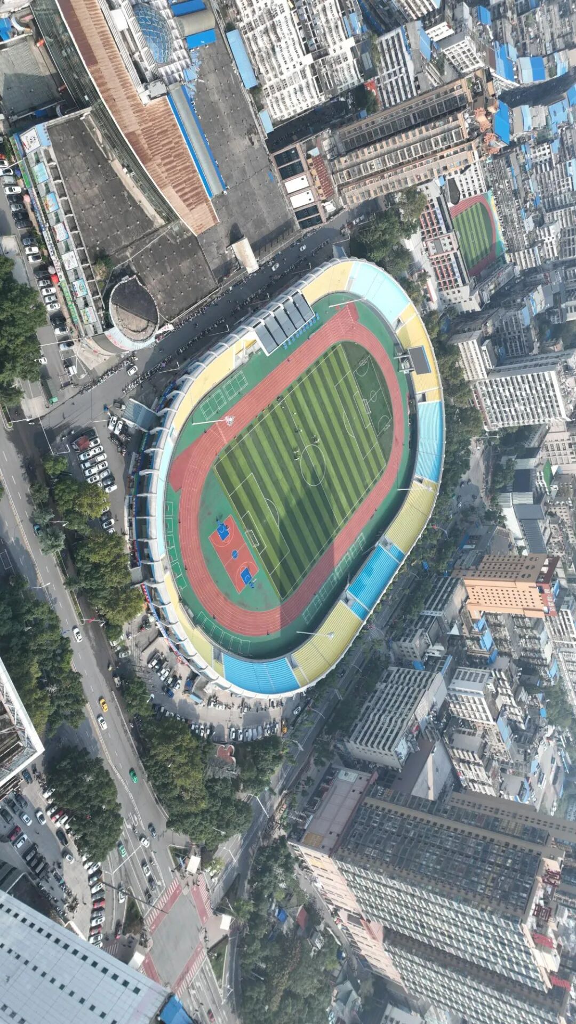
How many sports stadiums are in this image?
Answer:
1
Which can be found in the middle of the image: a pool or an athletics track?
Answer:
athletics track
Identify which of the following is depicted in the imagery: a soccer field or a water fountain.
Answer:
soccer field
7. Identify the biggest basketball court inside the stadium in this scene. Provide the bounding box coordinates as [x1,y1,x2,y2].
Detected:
[209,515,259,594]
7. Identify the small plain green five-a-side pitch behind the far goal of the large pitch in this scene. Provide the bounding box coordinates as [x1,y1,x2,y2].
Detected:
[354,356,392,436]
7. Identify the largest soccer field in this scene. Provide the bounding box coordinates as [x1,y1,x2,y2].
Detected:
[212,341,393,604]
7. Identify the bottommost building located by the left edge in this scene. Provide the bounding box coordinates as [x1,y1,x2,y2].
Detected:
[0,891,194,1024]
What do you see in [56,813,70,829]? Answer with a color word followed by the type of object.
white car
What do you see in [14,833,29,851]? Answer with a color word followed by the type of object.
white car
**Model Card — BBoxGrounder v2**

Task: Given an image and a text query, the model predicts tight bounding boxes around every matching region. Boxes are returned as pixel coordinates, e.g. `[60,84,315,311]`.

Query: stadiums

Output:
[117,245,445,701]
